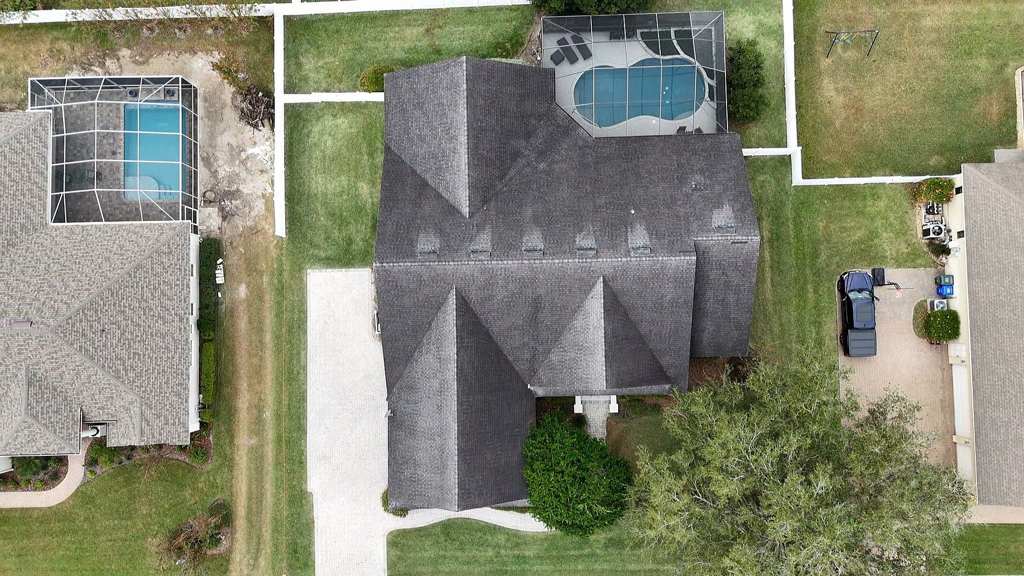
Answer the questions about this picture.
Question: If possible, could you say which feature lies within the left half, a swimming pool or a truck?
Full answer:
What appears within the left half is a swimming pool.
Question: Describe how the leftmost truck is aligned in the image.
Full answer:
The leftmost truck has been laid out up and down relative to the frame.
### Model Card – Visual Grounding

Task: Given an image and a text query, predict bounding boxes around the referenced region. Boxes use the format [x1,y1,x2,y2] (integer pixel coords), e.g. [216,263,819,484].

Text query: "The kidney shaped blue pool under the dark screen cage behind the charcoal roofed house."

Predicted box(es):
[570,54,708,130]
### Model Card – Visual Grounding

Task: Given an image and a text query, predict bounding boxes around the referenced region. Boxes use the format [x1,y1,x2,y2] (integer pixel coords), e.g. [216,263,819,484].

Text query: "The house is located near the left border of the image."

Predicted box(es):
[0,109,204,473]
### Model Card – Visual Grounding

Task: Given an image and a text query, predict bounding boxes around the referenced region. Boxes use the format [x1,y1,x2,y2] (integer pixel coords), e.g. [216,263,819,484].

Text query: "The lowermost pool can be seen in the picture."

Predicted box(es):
[124,105,180,200]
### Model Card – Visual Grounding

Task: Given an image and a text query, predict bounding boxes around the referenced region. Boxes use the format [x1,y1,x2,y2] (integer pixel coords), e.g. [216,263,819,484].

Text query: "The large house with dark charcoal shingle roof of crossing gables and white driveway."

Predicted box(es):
[373,56,761,511]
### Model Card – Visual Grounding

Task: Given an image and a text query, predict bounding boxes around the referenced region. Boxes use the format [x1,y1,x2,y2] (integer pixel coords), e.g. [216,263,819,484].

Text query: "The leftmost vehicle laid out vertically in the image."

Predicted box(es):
[835,271,877,357]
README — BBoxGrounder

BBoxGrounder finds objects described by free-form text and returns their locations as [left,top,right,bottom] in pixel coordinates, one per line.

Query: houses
[0,109,204,473]
[944,161,1024,509]
[373,56,761,511]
